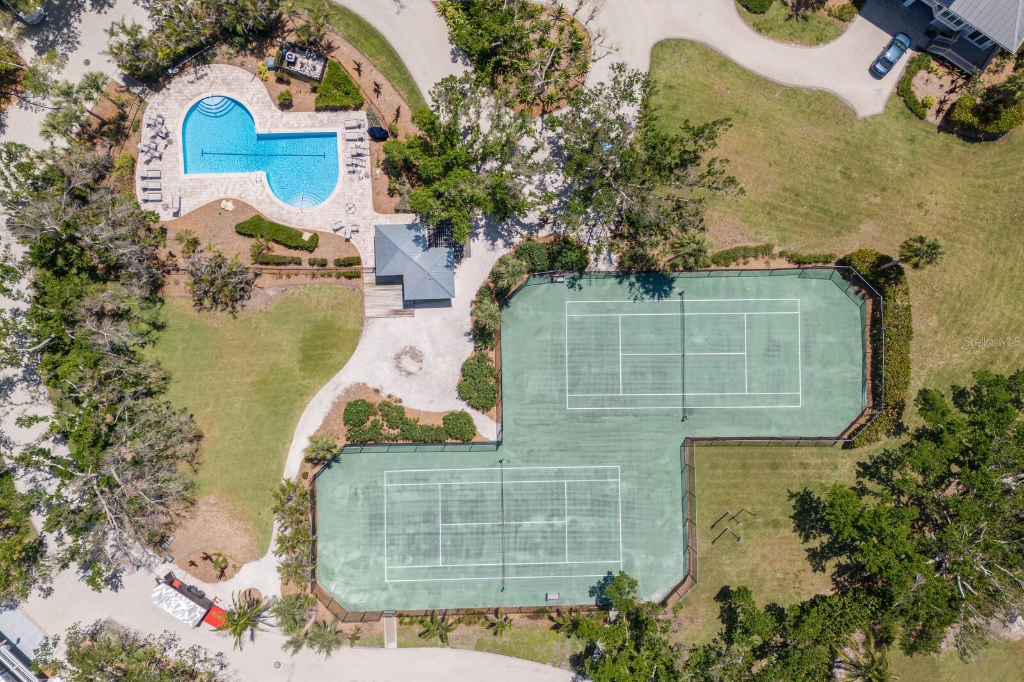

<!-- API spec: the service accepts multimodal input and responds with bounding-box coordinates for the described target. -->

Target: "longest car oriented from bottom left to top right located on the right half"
[873,31,909,76]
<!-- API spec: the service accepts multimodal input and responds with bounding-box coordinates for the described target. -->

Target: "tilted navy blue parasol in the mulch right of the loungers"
[368,126,389,143]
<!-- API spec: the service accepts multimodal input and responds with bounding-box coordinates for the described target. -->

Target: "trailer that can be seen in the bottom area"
[148,571,231,632]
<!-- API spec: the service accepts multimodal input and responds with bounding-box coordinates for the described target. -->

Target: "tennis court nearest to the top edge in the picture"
[501,268,867,441]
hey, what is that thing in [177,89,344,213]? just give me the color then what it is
blue swimming pool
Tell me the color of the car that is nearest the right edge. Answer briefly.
blue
